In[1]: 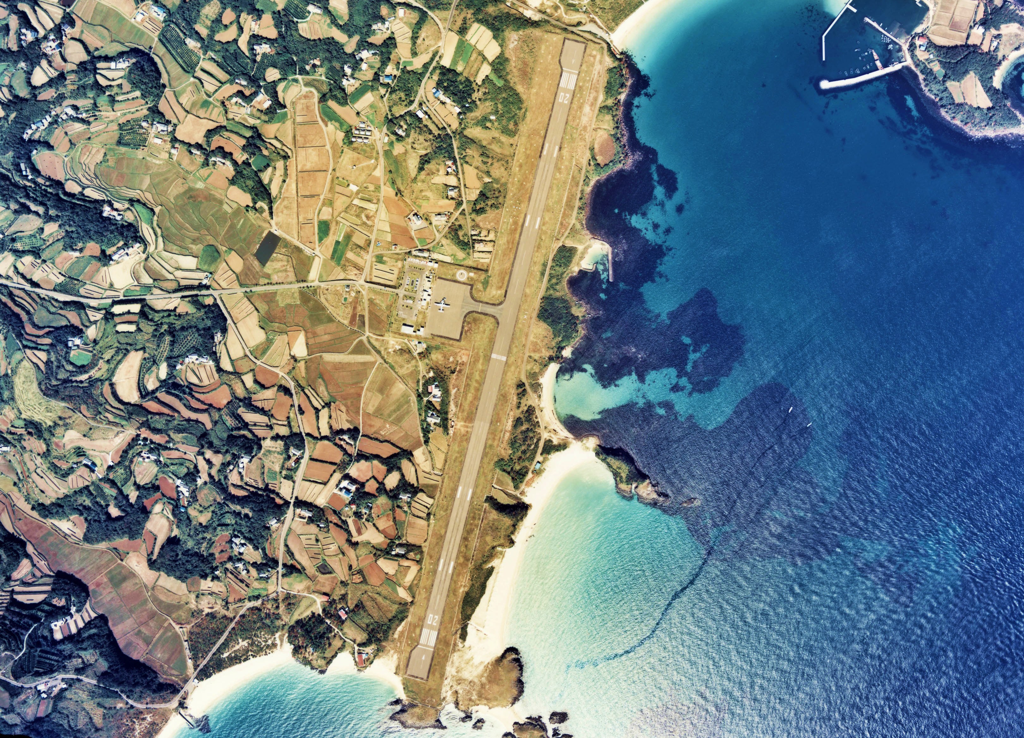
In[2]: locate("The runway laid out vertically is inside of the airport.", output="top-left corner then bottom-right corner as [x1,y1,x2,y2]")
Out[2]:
[418,51,579,669]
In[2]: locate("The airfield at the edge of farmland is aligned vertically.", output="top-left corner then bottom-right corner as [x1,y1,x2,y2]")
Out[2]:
[395,30,599,707]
